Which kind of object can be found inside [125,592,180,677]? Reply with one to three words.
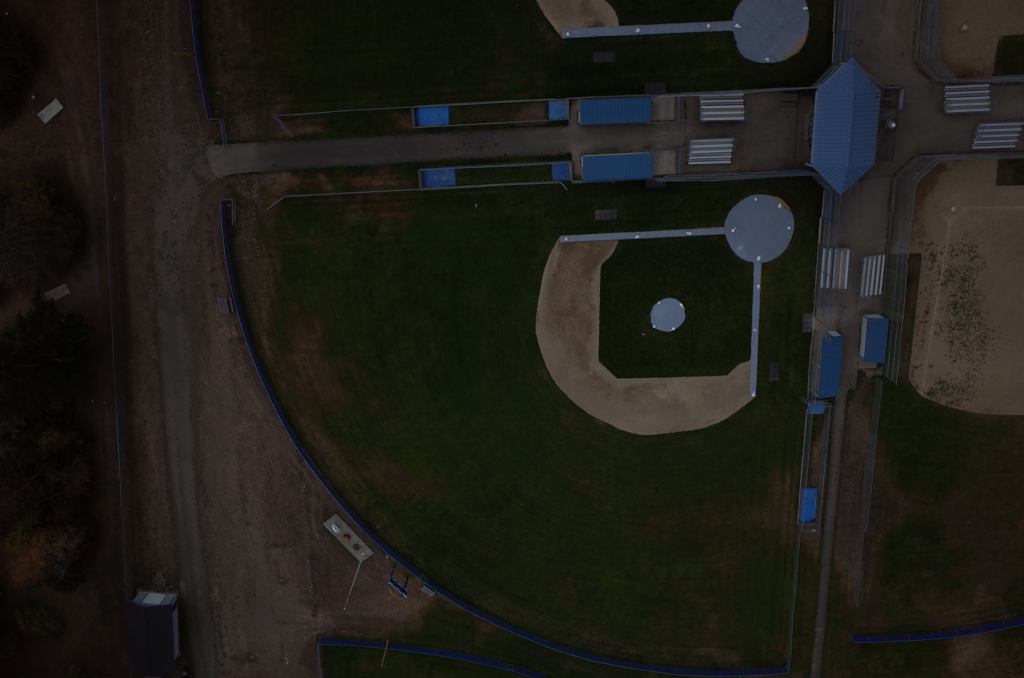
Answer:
shed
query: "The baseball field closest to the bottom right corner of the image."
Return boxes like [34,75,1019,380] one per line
[850,151,1024,636]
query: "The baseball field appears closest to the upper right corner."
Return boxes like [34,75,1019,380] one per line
[916,0,1024,81]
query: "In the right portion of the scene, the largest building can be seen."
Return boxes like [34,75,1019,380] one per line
[807,56,882,196]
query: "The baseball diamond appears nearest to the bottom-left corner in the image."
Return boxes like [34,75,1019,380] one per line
[319,641,530,678]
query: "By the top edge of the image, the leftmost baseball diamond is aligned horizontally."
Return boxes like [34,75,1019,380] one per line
[195,0,834,144]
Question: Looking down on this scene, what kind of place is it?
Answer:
sports ground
